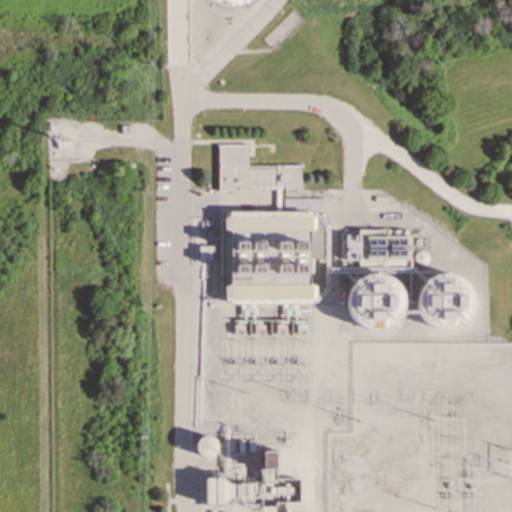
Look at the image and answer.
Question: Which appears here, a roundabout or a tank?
tank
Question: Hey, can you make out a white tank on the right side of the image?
Yes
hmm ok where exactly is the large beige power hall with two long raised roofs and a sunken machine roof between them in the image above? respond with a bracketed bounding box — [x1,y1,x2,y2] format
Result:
[222,210,326,304]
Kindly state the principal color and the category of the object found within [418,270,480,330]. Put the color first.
white storage tank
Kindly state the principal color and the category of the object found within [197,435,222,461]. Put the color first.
white silo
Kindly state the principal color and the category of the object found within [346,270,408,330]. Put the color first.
white storage tank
